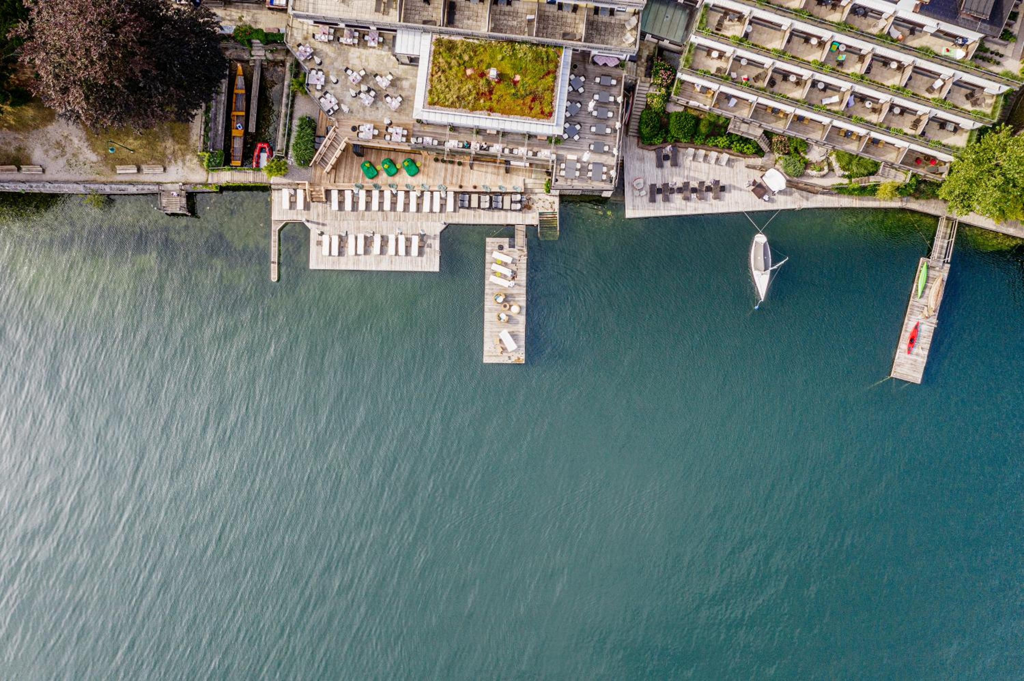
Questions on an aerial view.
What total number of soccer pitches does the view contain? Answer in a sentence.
Not a single soccer pitch can be seen.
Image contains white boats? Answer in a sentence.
Yes, the frame does contain a white boat.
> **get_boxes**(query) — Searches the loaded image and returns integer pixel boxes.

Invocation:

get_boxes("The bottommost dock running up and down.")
[890,258,950,384]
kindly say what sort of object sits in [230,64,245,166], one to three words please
boat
